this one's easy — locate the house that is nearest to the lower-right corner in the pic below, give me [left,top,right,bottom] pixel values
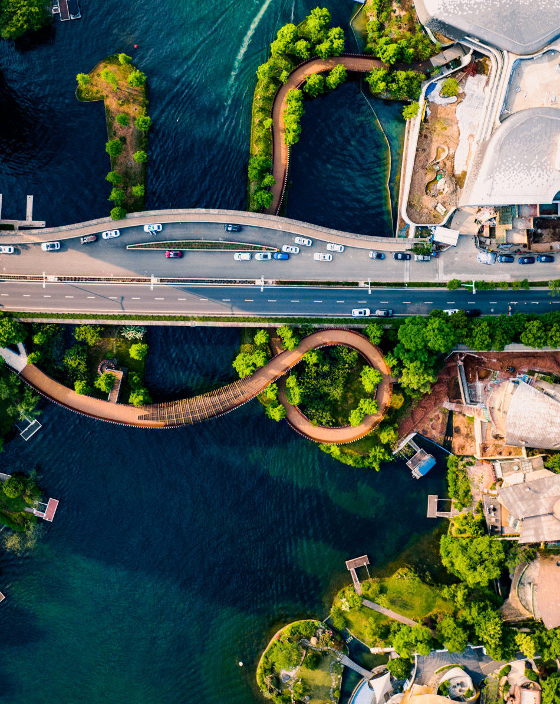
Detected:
[498,675,541,704]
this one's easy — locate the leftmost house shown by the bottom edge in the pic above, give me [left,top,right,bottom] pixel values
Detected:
[395,659,483,704]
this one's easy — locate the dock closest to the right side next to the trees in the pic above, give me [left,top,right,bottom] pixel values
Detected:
[427,494,453,520]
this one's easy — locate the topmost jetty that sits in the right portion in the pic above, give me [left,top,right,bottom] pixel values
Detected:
[404,439,430,468]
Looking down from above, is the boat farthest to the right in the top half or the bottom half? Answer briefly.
bottom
